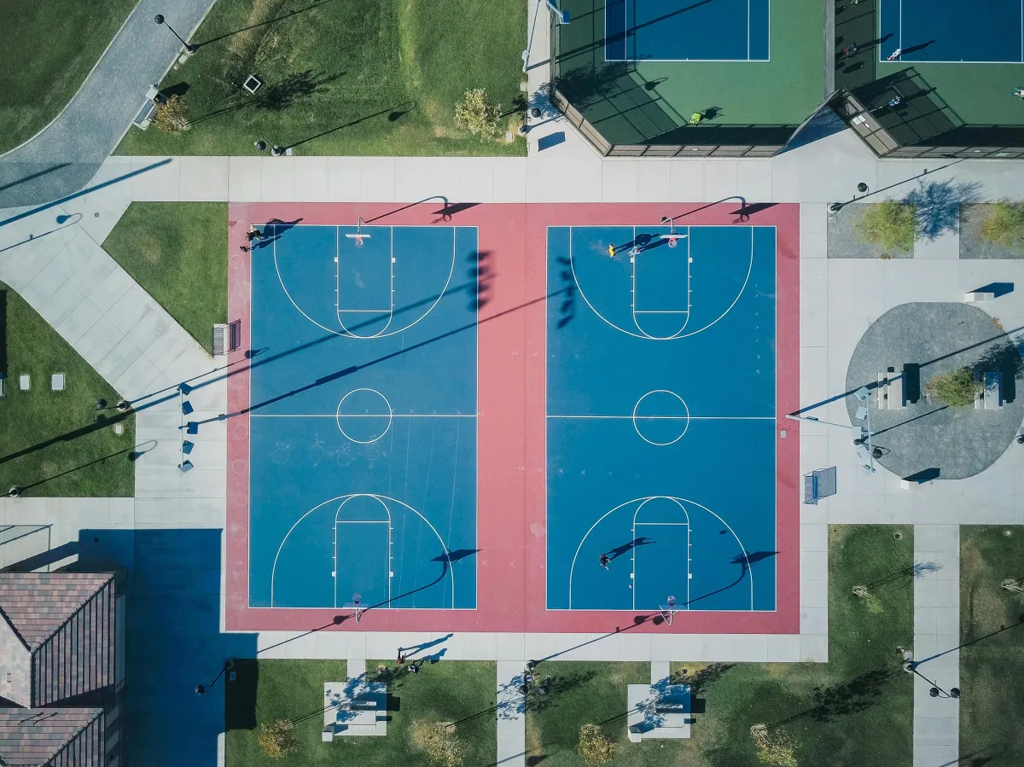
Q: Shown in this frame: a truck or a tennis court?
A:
tennis court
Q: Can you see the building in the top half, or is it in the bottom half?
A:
bottom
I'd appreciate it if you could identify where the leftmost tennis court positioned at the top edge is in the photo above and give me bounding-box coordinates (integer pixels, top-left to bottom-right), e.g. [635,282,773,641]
[605,0,770,61]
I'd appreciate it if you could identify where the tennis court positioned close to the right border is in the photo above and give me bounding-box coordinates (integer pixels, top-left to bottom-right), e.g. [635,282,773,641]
[880,0,1024,62]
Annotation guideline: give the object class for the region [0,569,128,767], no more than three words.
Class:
building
